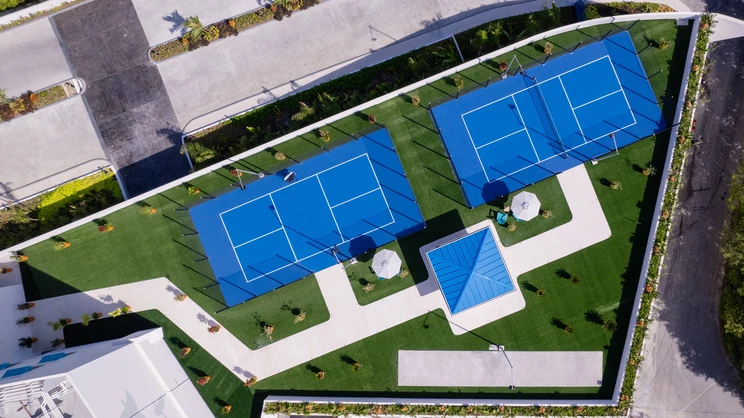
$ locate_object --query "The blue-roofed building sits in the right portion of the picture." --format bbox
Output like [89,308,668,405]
[426,225,517,315]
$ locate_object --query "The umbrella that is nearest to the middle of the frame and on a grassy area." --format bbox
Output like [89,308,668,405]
[371,248,403,280]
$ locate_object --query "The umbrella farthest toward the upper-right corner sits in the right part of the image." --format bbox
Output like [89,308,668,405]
[510,191,541,222]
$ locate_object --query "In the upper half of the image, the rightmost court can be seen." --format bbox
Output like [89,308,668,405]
[430,31,668,207]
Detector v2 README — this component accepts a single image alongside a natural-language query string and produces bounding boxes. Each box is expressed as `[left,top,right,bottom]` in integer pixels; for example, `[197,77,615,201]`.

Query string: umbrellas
[510,191,541,222]
[371,248,403,280]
